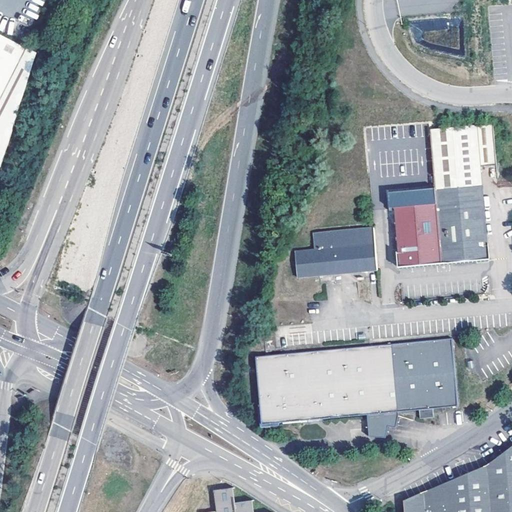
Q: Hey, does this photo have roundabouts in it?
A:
No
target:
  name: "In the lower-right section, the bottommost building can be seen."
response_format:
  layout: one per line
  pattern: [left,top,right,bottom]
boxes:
[403,444,512,512]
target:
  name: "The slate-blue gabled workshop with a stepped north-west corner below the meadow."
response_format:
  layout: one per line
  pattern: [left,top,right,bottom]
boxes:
[295,227,378,278]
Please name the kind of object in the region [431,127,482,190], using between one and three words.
shed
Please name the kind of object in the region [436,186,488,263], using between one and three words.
building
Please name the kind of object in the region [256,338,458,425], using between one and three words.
building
